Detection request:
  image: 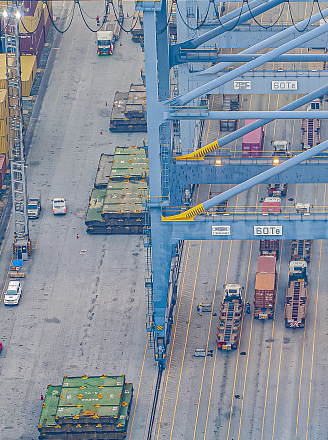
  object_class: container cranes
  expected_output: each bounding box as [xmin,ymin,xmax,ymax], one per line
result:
[173,0,328,200]
[0,0,328,373]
